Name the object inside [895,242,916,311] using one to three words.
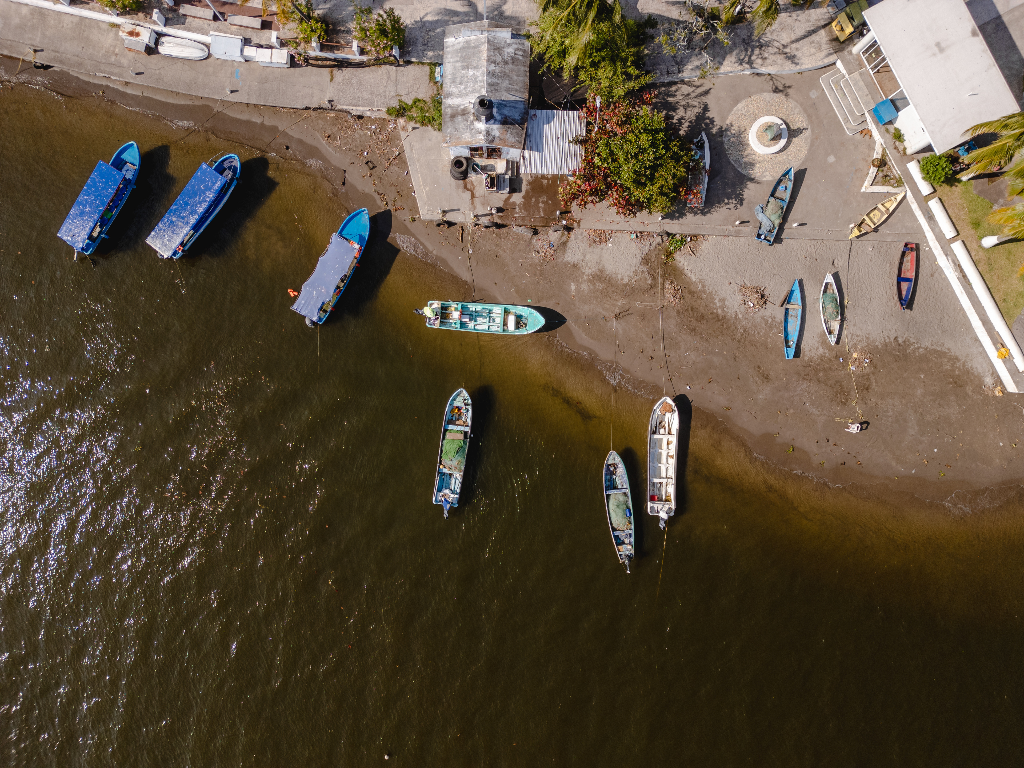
boat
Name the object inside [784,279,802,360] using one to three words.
boat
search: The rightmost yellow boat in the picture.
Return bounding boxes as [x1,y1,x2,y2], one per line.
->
[849,191,906,239]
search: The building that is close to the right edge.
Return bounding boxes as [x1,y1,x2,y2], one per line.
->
[851,0,1021,157]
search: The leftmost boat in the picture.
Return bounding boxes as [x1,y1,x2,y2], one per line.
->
[57,141,140,264]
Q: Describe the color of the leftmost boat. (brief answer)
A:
blue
